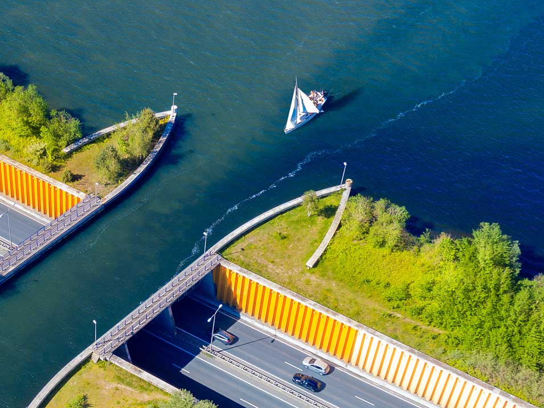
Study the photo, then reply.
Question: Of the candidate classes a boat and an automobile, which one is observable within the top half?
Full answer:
Visible within the top half is a boat.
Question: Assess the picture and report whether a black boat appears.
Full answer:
No, no black boat is visible in the scene.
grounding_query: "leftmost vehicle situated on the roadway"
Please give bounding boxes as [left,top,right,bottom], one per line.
[211,331,238,349]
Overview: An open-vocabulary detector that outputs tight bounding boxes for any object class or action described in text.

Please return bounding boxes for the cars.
[292,373,324,393]
[211,331,238,349]
[302,357,331,377]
